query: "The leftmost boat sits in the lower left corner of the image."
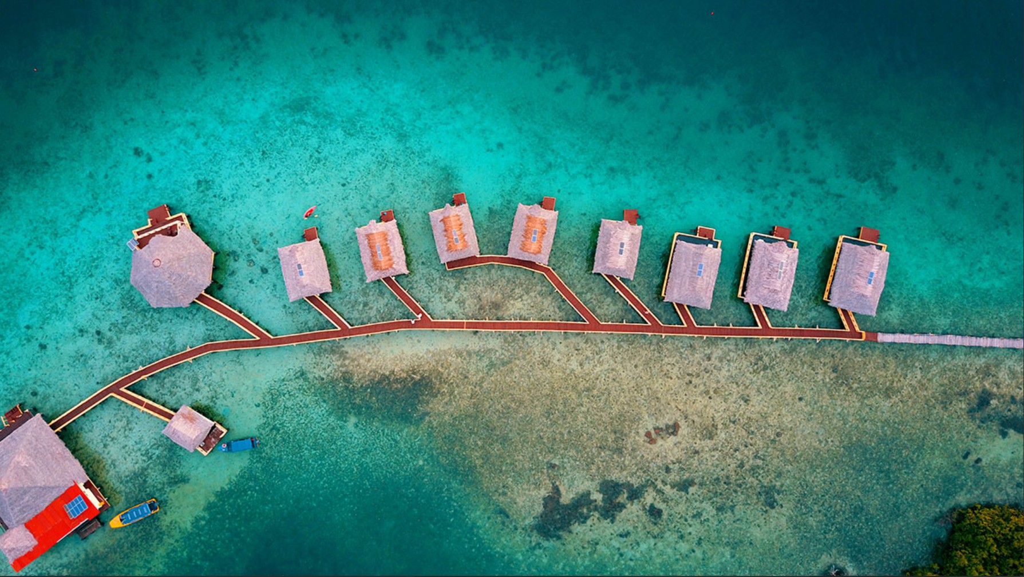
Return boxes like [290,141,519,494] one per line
[106,499,160,530]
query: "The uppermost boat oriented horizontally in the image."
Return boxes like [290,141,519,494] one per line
[216,436,259,454]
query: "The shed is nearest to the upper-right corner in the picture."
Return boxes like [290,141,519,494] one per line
[817,226,890,317]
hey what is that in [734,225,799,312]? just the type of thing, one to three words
shed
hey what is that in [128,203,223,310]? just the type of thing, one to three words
shed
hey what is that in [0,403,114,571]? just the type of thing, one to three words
building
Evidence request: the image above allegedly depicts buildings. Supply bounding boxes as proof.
[506,196,559,265]
[355,209,410,283]
[161,403,235,456]
[660,226,723,311]
[817,226,890,317]
[276,226,334,302]
[734,225,799,312]
[592,209,643,280]
[0,403,114,571]
[428,192,481,263]
[128,203,223,310]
